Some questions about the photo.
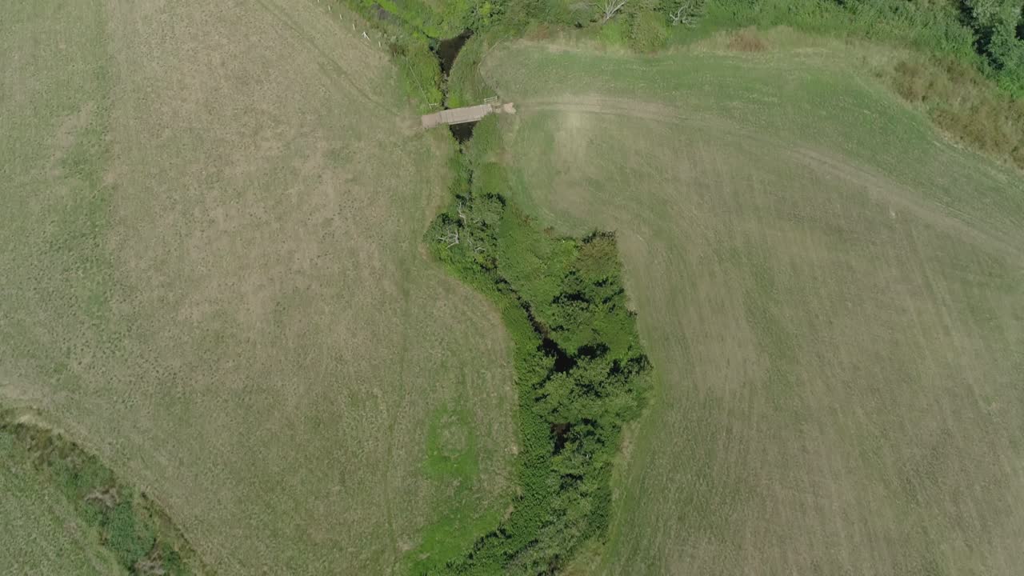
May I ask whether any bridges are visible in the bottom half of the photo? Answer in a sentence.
No, no bridge appears in the bottom half of the photo.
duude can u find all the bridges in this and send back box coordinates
[421,104,497,128]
